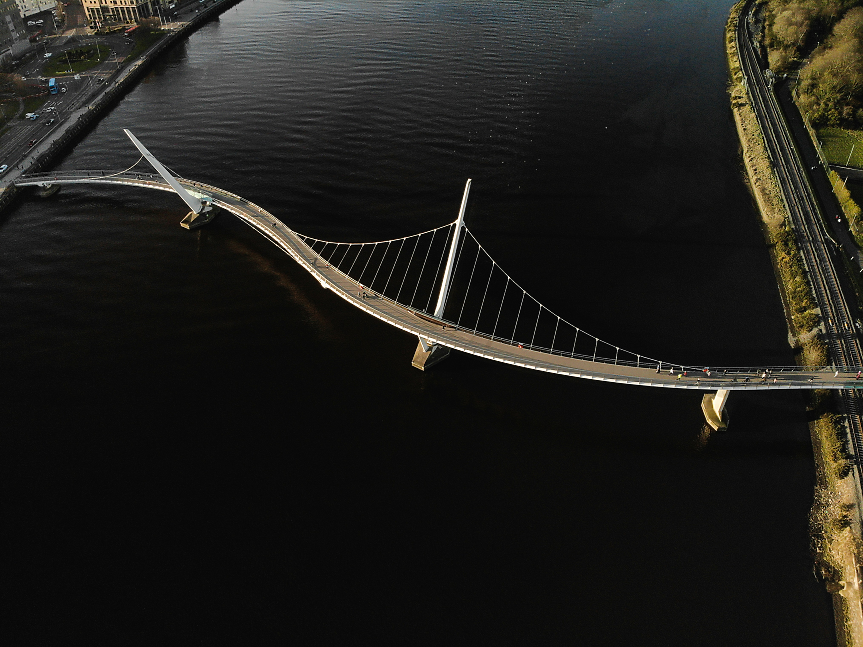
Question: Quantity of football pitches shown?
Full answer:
The photo contains no football pitches.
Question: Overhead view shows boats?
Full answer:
No, there is no boat in the image.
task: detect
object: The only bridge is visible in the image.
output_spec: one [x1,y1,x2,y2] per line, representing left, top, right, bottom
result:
[4,127,863,436]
